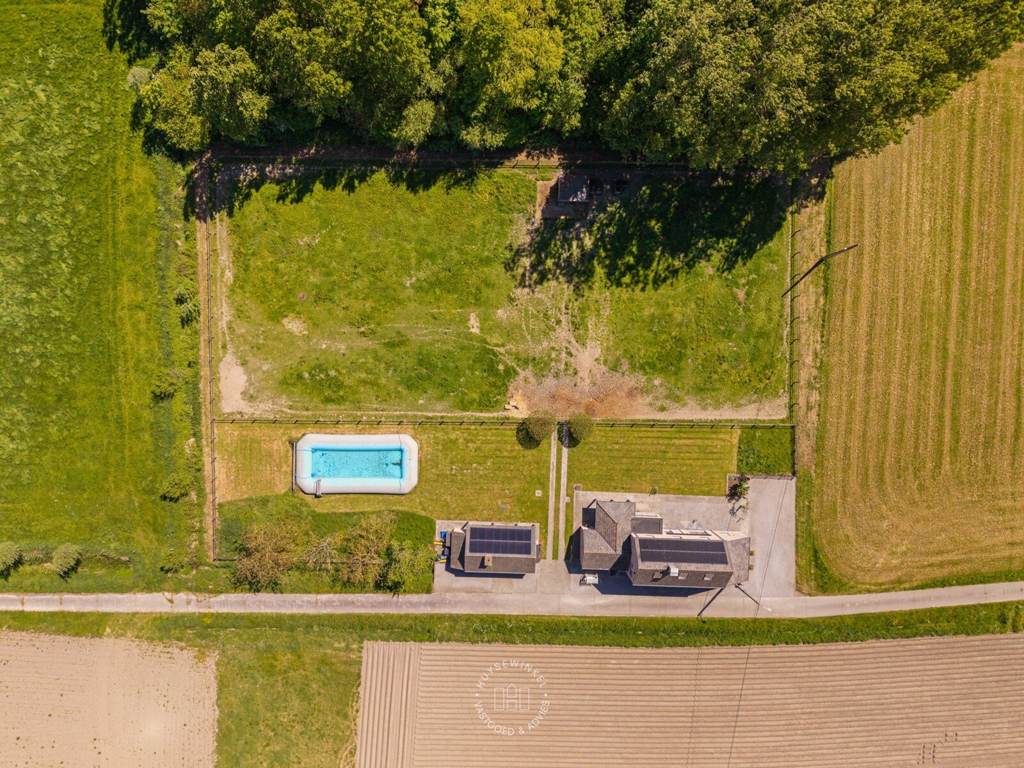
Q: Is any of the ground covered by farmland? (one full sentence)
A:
Yes, farmland shows up in the scene.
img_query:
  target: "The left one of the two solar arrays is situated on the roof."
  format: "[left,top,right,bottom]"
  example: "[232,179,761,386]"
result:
[469,527,531,555]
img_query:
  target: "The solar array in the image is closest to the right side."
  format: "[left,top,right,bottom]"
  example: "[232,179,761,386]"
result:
[639,539,728,565]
